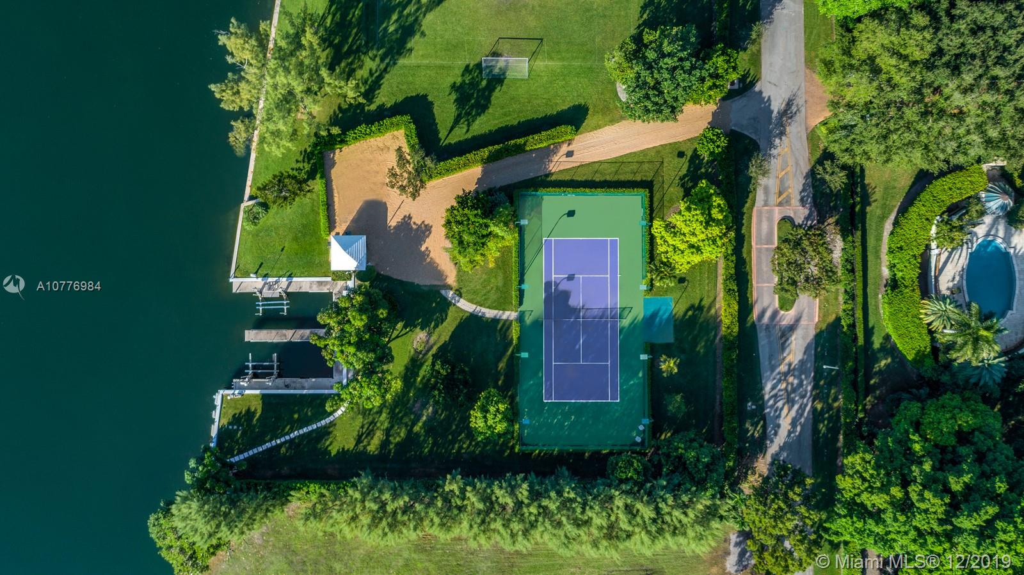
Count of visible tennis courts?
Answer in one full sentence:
In total, 1 tennis court can be seen.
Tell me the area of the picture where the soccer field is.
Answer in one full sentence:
You can find the soccer field in the top area of the picture.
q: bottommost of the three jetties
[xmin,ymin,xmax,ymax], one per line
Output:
[234,358,344,389]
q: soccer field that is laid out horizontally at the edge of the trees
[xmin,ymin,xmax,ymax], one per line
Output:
[377,0,634,63]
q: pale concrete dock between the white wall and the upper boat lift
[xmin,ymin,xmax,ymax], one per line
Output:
[232,280,347,301]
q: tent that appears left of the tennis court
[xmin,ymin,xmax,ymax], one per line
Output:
[331,235,369,270]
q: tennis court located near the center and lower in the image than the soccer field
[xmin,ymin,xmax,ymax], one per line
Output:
[519,195,641,445]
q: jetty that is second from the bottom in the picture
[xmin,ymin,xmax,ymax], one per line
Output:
[244,328,322,342]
